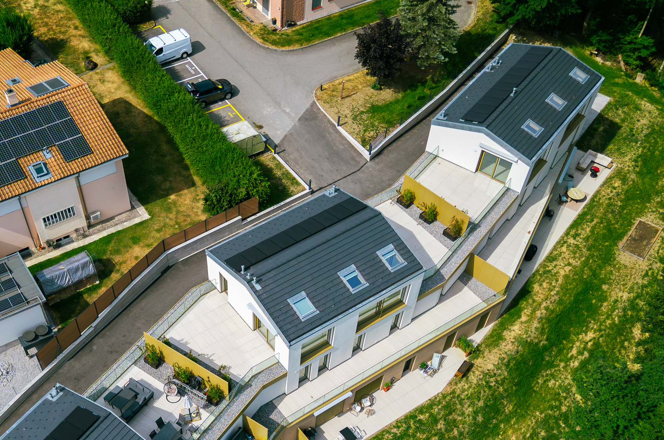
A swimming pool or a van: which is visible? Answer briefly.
van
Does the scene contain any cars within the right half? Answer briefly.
No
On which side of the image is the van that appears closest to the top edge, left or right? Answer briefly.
left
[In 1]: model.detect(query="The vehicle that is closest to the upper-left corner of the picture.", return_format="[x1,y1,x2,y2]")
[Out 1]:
[149,32,200,64]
